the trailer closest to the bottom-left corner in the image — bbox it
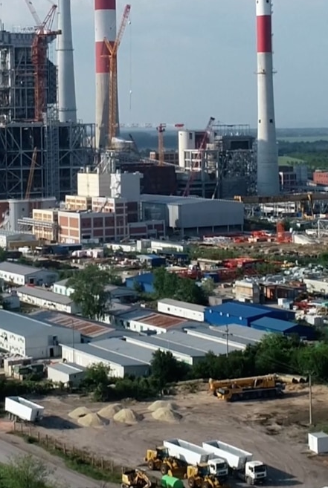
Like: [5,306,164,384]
[6,392,42,423]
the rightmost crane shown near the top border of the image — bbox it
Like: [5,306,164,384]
[102,4,132,170]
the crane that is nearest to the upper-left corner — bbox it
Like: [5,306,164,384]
[0,0,62,121]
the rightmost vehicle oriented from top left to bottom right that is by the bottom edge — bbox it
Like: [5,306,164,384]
[197,439,267,488]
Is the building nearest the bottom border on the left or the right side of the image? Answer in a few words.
right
